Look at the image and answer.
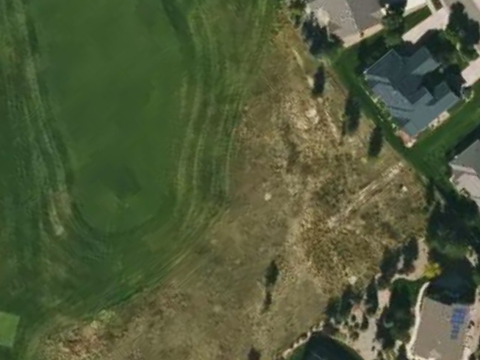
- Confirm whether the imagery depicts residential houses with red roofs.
No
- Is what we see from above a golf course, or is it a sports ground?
golf course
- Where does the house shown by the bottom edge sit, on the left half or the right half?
right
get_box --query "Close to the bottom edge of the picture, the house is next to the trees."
[415,297,474,360]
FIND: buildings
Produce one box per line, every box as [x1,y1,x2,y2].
[449,143,480,210]
[415,297,474,360]
[313,0,392,47]
[363,48,458,137]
